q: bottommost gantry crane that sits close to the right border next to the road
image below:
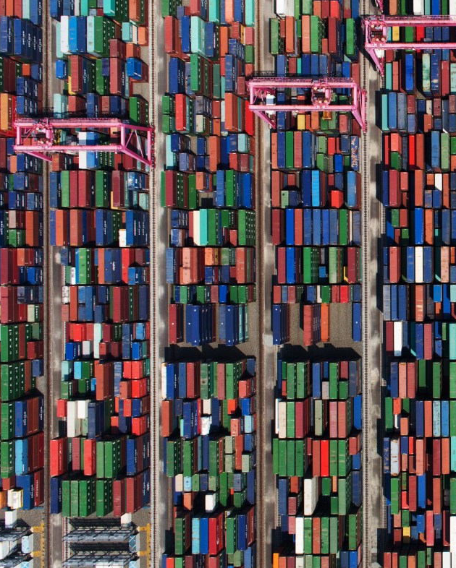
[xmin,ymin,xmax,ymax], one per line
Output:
[362,13,456,73]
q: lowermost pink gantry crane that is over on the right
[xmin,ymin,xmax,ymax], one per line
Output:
[247,73,364,129]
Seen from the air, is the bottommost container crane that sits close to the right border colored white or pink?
pink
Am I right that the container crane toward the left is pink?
Yes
